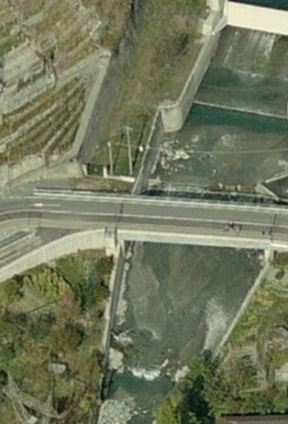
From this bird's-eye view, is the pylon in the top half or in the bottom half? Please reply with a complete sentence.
Seen from above, the pylon lies in the bottom half of the view.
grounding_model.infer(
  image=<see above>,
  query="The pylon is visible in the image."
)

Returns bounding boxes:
[1,375,75,424]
